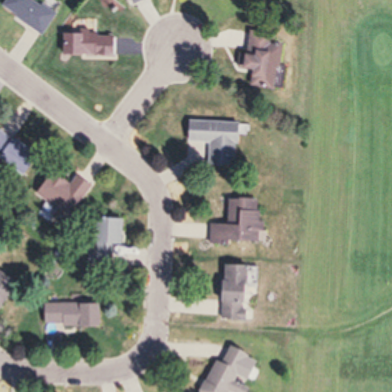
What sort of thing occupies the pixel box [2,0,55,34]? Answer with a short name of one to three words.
house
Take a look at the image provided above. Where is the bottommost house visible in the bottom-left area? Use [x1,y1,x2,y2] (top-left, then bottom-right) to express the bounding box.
[44,302,101,328]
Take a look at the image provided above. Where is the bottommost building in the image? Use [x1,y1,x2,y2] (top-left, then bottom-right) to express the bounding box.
[200,346,259,392]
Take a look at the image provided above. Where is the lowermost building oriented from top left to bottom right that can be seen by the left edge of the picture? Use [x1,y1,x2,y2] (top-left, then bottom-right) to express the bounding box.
[0,127,34,170]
